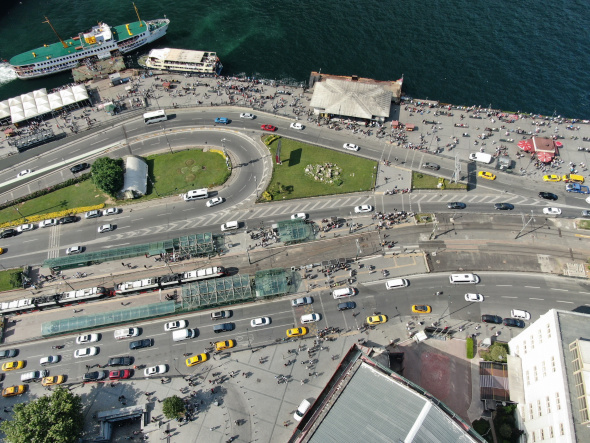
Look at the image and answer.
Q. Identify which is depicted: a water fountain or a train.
train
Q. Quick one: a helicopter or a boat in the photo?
boat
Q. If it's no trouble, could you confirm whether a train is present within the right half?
No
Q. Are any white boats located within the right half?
No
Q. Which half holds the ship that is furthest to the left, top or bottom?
top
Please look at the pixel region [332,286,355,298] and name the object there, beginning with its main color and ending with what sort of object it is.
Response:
white vehicle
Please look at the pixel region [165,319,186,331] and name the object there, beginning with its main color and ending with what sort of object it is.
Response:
white vehicle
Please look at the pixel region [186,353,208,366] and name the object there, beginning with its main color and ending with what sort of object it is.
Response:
yellow vehicle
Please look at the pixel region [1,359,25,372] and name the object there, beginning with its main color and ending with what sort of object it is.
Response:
yellow vehicle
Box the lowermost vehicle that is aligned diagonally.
[288,393,311,423]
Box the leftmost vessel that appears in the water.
[0,3,173,76]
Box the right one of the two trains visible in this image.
[109,266,224,297]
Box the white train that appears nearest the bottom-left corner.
[0,285,110,317]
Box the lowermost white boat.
[134,47,222,75]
